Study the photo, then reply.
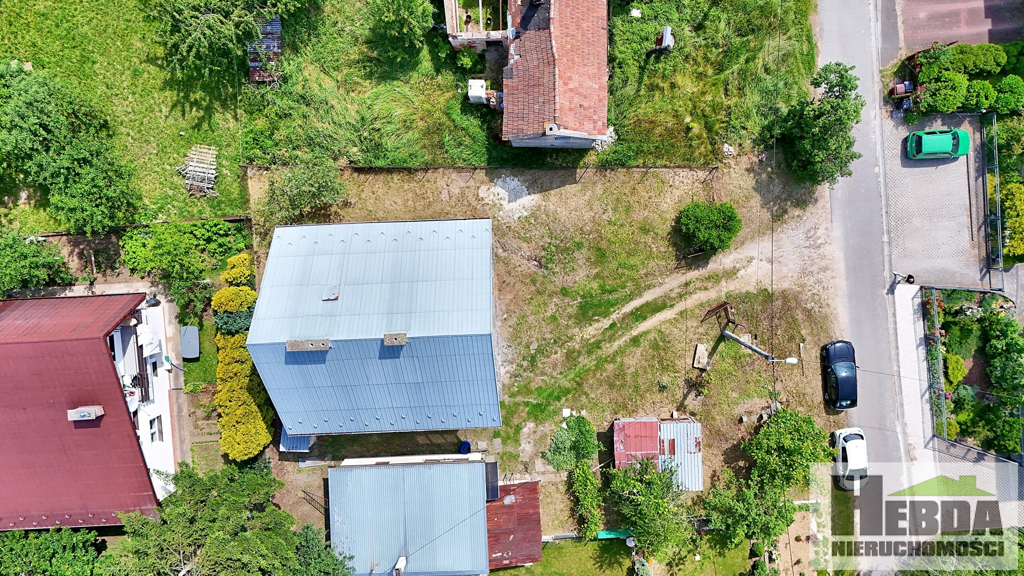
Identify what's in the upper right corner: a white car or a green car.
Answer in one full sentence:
It is a green car that can be seen in the upper right corner.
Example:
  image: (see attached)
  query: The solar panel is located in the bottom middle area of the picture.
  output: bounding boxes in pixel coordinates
[485,450,501,500]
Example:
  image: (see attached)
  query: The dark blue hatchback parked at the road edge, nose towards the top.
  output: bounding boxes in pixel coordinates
[819,341,857,410]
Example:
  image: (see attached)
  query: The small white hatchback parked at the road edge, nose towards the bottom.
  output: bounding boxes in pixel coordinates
[833,427,871,490]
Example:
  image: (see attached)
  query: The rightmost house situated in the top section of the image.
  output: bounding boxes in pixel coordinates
[446,0,609,149]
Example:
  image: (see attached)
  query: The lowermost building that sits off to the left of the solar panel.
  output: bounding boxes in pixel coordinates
[327,455,490,576]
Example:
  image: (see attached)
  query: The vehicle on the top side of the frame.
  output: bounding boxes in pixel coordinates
[905,126,972,160]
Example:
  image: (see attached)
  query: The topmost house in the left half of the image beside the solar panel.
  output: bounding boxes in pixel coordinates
[245,215,501,438]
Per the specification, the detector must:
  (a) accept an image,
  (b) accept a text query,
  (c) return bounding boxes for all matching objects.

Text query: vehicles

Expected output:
[819,341,857,410]
[833,427,871,490]
[905,126,972,160]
